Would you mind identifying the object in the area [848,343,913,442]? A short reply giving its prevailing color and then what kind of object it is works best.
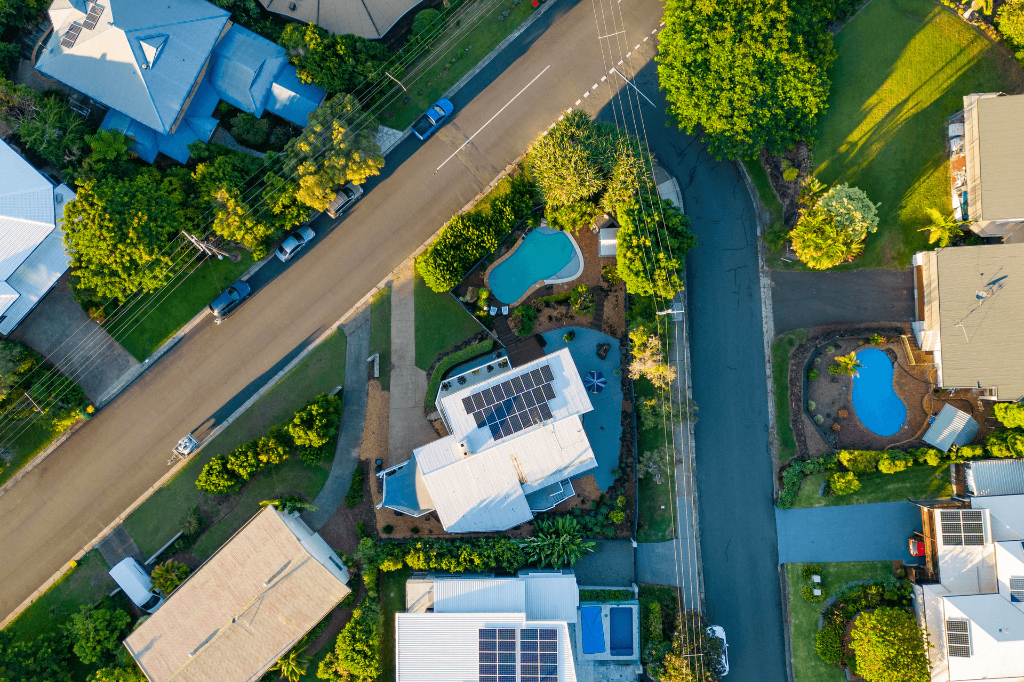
blue swimming pool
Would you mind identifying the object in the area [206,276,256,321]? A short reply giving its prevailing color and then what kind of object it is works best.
blue car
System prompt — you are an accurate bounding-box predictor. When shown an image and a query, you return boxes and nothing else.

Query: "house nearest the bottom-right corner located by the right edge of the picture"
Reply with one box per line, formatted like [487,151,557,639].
[910,457,1024,682]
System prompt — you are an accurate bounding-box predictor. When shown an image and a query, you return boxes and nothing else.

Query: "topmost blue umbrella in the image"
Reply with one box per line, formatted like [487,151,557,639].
[583,370,607,395]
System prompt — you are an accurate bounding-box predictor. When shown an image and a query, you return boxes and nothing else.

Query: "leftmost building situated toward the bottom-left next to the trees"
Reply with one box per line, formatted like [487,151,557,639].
[122,503,353,682]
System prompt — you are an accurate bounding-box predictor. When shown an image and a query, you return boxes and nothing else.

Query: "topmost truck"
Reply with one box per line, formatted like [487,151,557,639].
[405,94,459,146]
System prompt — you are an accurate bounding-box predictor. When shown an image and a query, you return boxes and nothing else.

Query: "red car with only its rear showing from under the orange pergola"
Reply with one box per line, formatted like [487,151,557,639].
[902,535,924,557]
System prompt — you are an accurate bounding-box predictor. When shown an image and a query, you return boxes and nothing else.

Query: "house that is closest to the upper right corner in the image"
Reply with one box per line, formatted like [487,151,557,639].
[943,93,1024,244]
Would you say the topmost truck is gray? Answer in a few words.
No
